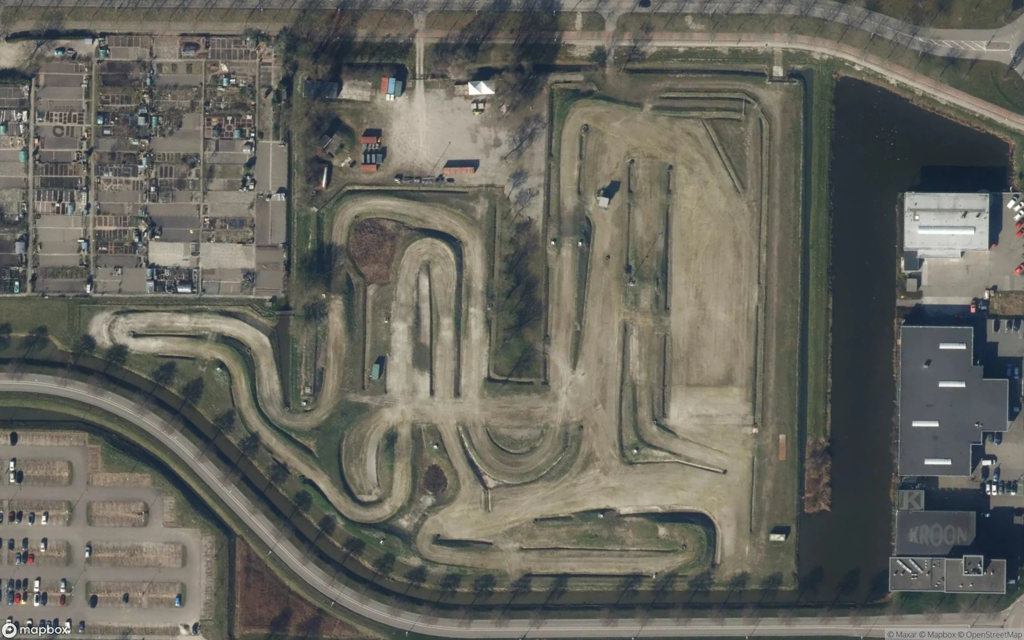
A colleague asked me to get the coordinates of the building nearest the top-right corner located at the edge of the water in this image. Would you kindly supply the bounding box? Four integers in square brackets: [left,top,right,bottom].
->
[903,191,989,271]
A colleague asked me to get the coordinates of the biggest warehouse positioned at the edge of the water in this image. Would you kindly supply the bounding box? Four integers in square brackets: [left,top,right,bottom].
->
[898,325,1008,476]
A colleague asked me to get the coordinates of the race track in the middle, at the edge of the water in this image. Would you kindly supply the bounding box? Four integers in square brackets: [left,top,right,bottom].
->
[87,92,771,576]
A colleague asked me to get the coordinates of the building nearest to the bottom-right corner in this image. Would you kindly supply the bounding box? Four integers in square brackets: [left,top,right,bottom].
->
[944,548,1006,593]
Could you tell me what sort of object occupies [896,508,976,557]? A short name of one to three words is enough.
building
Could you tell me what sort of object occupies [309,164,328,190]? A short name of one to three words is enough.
barn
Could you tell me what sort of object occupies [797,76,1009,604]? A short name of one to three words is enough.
pond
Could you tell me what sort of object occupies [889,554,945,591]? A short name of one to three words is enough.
building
